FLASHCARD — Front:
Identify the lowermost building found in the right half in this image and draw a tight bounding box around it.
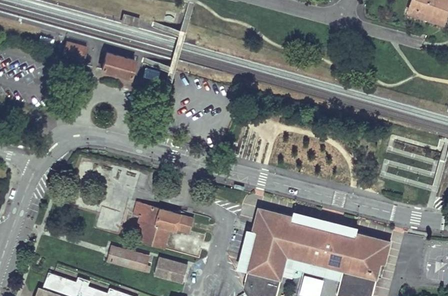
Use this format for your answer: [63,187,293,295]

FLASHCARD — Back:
[236,207,392,296]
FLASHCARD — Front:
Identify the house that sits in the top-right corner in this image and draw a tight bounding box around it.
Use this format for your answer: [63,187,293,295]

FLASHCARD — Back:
[406,0,448,28]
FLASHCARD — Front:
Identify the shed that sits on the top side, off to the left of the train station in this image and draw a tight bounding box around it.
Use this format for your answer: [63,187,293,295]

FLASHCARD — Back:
[62,42,88,60]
